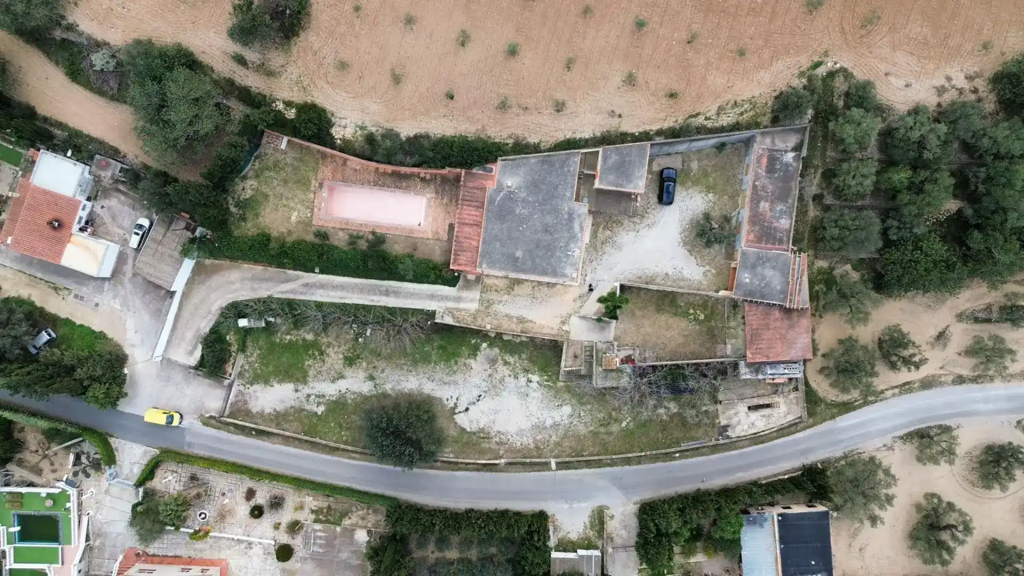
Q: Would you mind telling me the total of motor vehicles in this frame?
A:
4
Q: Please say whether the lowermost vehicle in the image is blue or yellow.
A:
yellow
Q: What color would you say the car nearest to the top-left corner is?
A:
white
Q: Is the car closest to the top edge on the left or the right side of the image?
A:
right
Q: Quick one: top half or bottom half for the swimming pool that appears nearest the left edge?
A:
bottom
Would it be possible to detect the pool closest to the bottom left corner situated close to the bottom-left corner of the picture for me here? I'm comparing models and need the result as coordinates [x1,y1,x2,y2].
[8,512,63,545]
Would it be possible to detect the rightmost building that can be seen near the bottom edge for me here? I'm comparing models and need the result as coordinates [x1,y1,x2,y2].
[771,502,840,576]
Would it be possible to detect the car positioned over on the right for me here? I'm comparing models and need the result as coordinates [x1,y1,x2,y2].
[657,166,678,206]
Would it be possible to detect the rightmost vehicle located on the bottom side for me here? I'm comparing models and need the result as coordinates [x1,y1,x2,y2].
[141,407,182,429]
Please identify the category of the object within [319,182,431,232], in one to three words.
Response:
swimming pool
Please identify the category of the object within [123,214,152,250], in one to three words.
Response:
car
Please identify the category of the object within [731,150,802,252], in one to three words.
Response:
shed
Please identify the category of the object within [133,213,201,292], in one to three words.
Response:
shed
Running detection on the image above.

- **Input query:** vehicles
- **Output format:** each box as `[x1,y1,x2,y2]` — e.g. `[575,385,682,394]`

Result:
[22,326,57,357]
[657,166,678,206]
[123,214,152,250]
[141,407,182,429]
